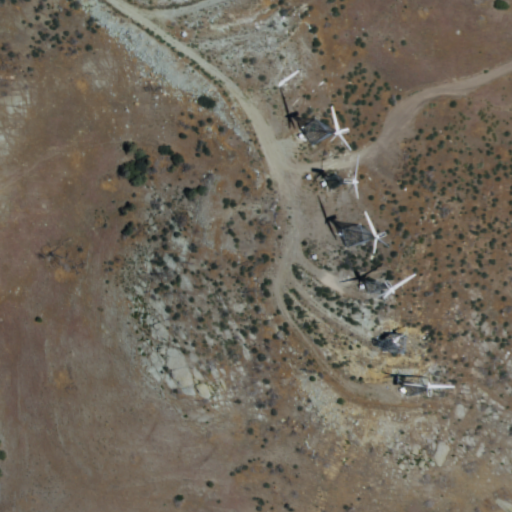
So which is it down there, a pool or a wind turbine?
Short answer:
wind turbine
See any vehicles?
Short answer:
No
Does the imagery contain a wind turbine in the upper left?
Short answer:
No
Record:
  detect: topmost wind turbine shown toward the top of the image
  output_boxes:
[302,106,349,150]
